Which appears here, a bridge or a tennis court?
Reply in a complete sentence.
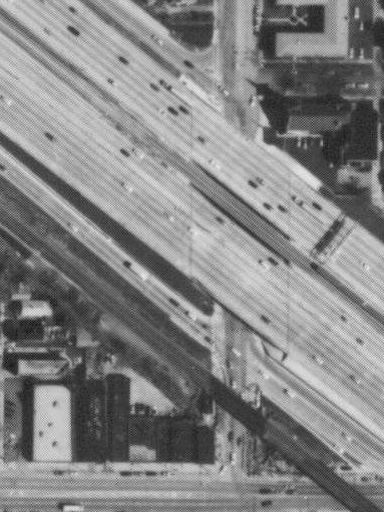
The image shows a bridge.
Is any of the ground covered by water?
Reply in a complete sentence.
No, there's no water in this view.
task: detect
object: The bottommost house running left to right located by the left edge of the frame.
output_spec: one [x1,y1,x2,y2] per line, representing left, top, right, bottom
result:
[18,359,68,377]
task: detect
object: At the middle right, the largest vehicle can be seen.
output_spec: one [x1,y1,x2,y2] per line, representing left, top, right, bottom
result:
[300,202,332,230]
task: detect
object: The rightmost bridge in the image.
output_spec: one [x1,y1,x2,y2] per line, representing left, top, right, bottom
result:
[300,448,370,512]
